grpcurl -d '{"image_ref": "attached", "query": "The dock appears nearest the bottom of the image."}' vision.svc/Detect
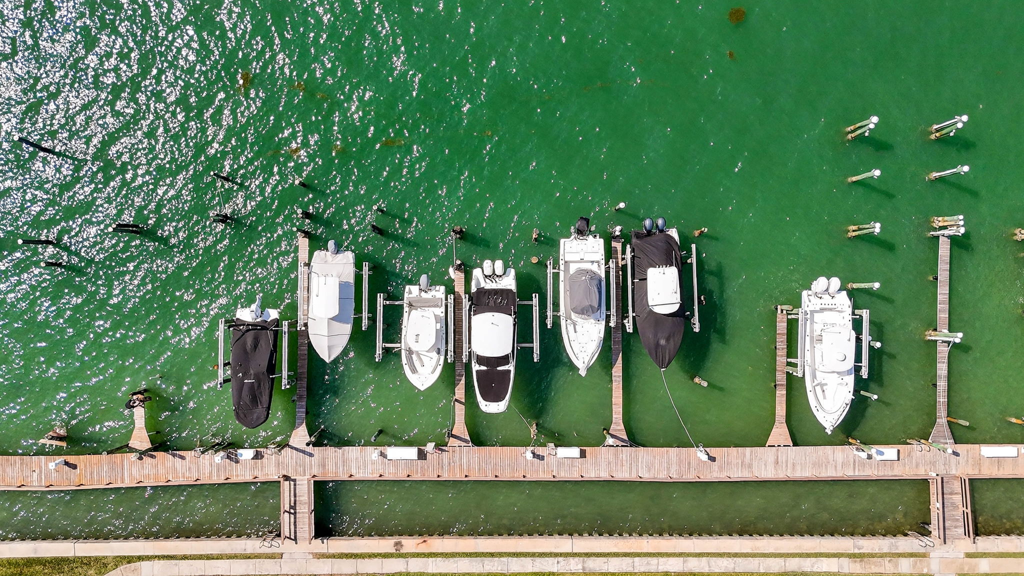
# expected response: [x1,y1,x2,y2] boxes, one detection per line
[0,442,1024,490]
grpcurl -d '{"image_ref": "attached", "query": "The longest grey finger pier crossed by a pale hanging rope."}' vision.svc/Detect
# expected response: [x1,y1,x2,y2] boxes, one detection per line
[927,236,954,445]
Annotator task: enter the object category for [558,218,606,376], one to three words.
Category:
boat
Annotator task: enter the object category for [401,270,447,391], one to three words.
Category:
boat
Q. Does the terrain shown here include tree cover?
No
